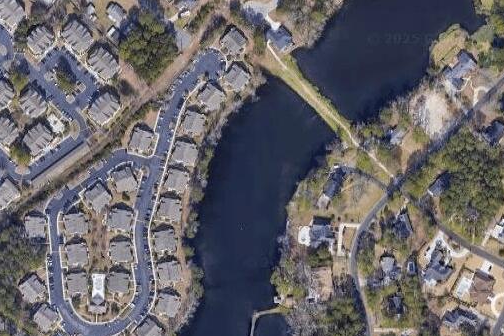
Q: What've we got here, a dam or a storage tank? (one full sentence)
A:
This aerial view contains a dam.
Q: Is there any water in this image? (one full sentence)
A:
Yes, some water is visible.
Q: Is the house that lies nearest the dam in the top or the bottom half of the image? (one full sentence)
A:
You can find the house that lies nearest the dam in the top half.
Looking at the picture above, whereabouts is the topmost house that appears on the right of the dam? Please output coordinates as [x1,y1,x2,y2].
[443,54,478,85]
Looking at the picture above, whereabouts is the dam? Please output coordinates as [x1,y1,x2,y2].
[266,51,358,143]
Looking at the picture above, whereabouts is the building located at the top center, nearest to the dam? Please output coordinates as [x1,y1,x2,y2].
[268,25,295,52]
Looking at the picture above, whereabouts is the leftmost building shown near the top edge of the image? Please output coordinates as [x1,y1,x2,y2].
[0,0,26,27]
